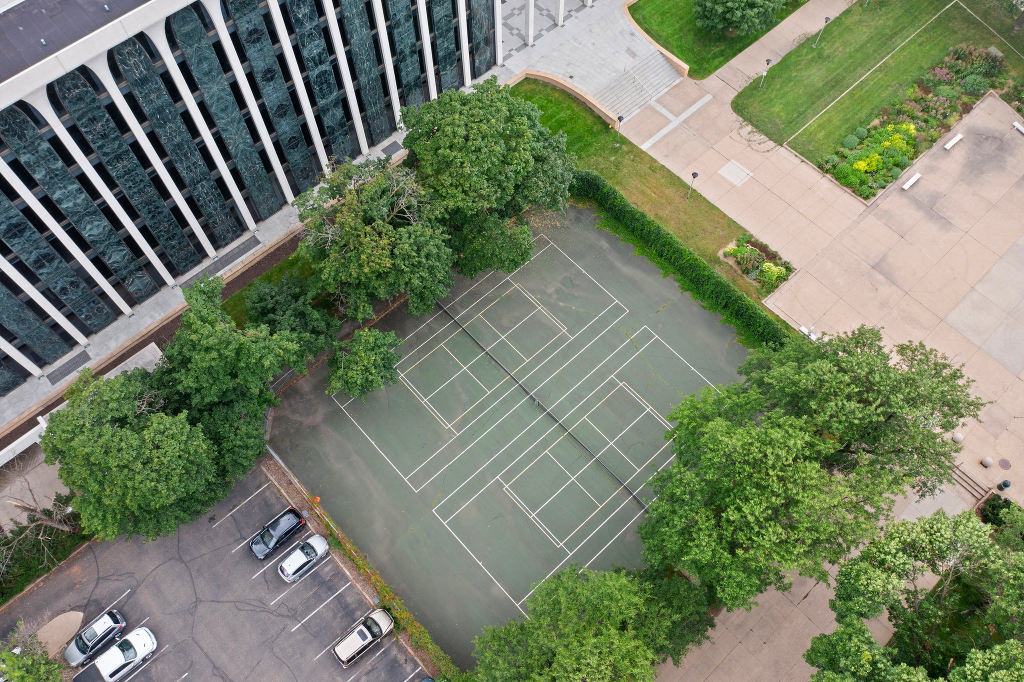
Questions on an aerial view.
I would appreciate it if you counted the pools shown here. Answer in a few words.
0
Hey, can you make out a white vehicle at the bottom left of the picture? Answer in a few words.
Yes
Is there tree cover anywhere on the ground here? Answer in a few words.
Yes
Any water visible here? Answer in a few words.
No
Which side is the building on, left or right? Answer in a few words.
left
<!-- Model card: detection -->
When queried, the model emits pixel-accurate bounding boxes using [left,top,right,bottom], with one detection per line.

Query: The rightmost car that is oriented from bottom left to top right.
[329,609,394,672]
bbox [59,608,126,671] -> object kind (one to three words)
car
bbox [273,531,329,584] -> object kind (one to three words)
car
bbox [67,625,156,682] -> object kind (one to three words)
truck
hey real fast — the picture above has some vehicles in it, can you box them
[329,609,394,672]
[67,625,156,682]
[59,608,126,671]
[273,531,329,584]
[248,504,308,561]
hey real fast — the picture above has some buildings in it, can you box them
[0,0,592,397]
